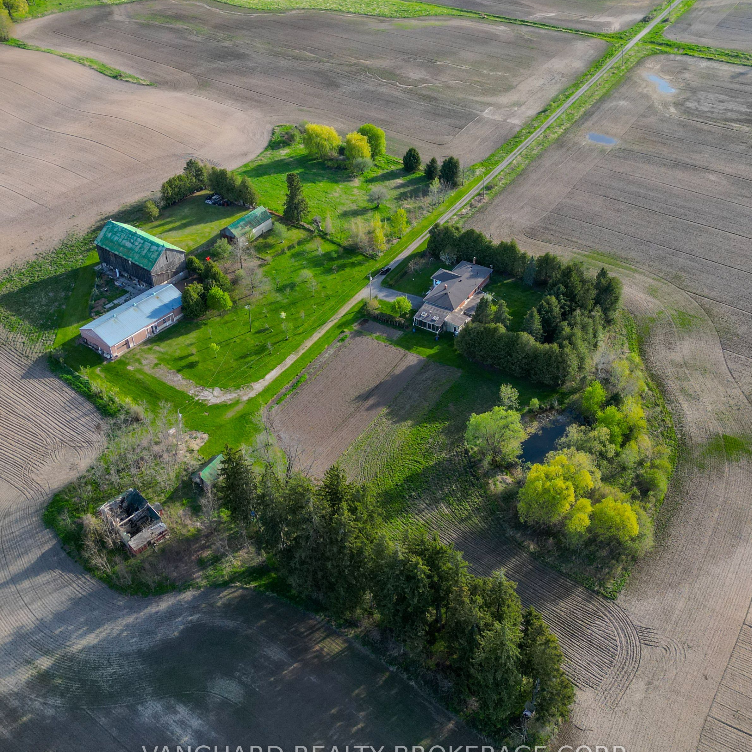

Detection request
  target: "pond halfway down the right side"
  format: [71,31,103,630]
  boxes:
[514,408,594,466]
